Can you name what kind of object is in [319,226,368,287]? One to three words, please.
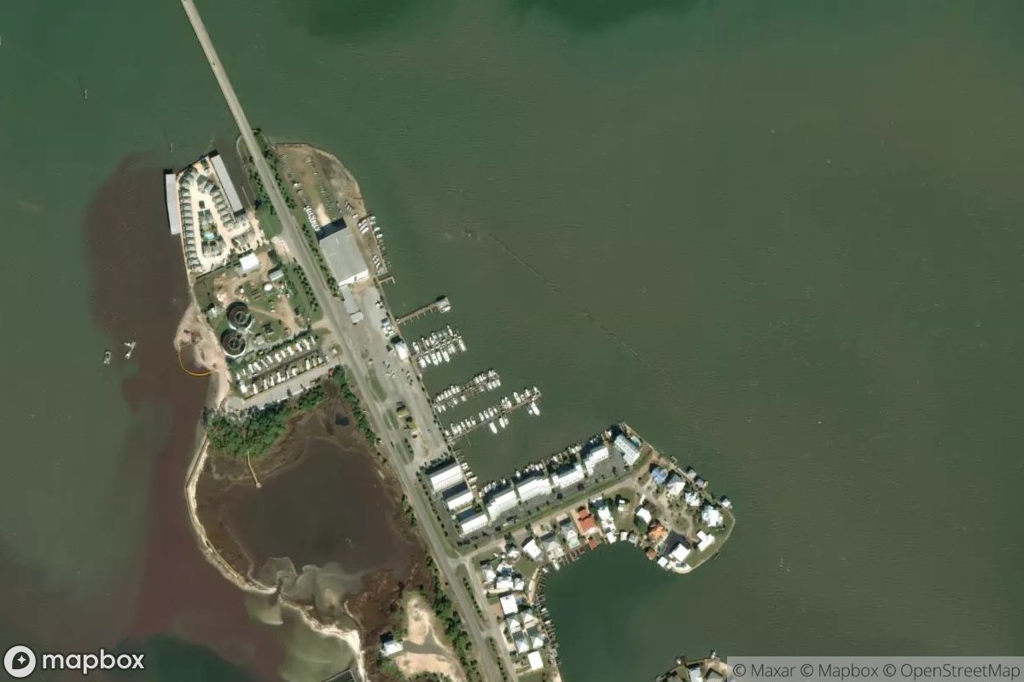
building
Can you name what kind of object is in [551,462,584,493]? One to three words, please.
house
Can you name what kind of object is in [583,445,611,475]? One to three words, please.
house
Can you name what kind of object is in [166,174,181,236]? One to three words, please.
building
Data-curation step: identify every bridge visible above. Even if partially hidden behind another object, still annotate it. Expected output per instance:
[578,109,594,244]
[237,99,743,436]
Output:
[181,0,272,182]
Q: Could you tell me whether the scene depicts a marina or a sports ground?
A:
marina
